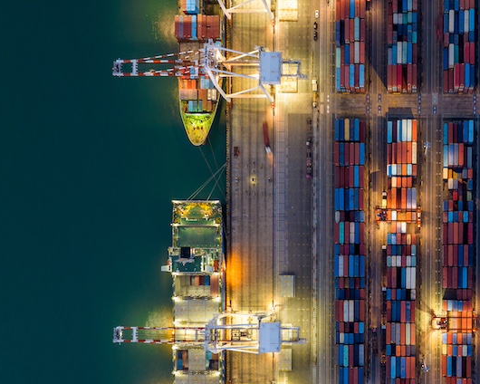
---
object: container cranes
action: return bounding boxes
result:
[375,206,424,229]
[432,312,480,333]
[216,0,274,27]
[113,310,307,355]
[113,44,307,108]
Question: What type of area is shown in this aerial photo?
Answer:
port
